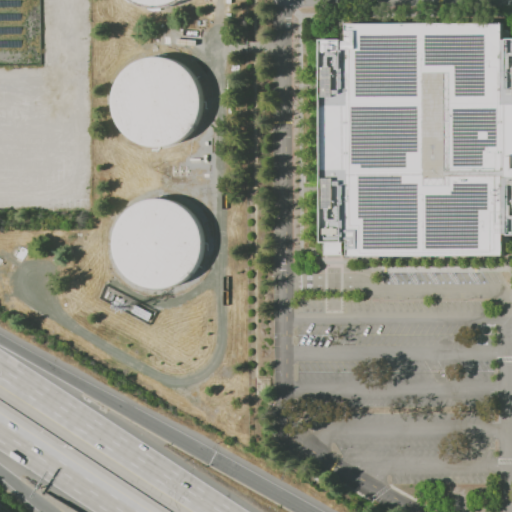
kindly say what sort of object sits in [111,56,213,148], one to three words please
water tank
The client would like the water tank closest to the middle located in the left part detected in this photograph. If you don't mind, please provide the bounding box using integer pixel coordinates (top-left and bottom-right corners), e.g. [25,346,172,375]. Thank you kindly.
[111,198,213,290]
